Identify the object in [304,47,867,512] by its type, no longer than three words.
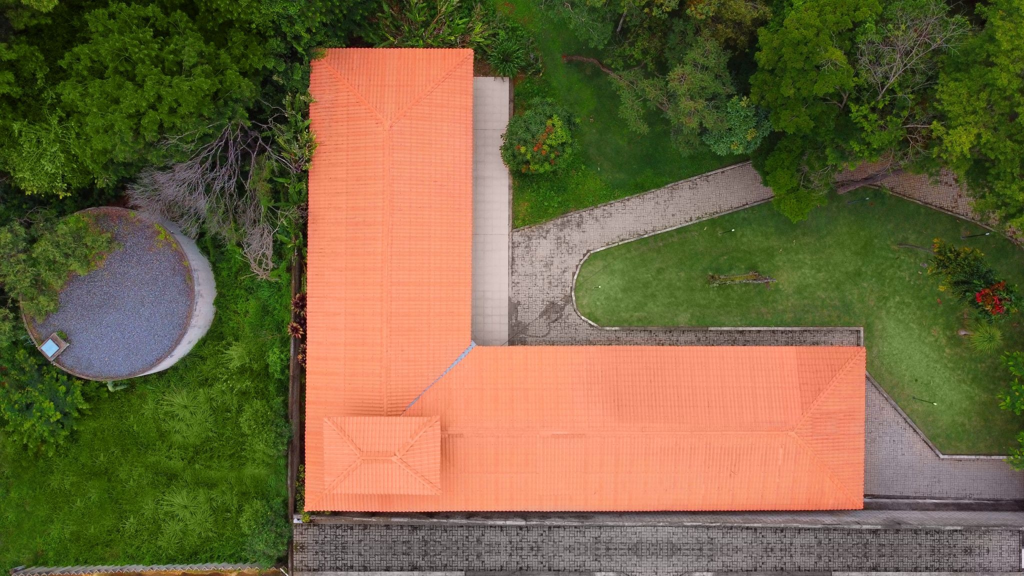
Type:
building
